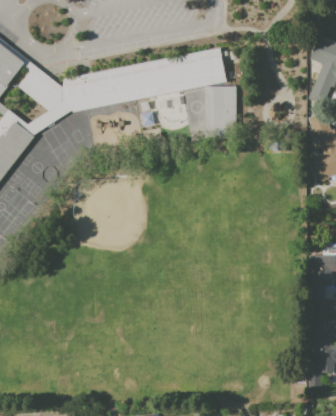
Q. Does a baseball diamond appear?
Yes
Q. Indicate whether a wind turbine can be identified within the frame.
No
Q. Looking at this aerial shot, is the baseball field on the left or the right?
left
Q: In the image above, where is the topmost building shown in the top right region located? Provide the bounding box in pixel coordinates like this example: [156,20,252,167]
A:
[308,38,336,95]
